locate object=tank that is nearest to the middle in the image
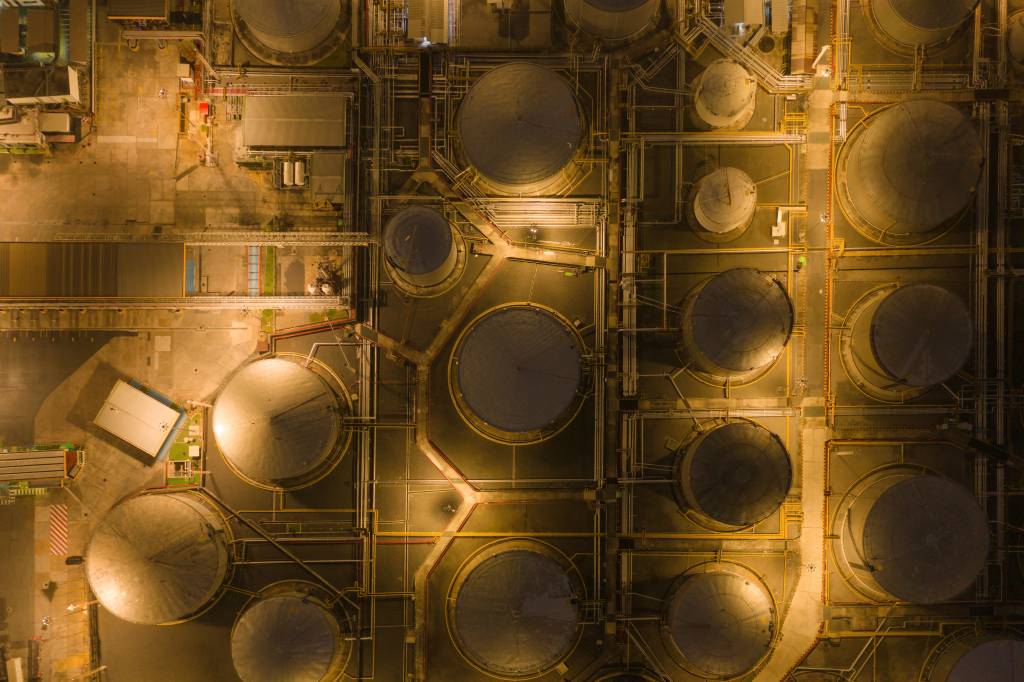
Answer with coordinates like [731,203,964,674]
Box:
[447,300,593,445]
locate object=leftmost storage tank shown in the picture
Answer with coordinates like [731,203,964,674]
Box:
[86,484,235,629]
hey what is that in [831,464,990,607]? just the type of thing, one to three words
storage tank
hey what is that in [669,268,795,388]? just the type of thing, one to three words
storage tank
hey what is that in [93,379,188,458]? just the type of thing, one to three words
building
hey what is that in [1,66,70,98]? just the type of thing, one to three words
building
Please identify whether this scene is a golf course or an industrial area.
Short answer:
industrial area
